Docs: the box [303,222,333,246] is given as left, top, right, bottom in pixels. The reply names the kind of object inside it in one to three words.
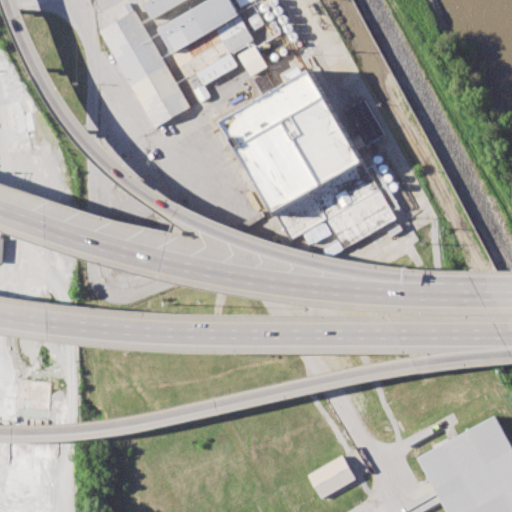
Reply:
shed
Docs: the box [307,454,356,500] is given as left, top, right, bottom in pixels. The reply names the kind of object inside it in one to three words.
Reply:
shed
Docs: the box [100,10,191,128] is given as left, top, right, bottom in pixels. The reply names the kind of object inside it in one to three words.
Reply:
building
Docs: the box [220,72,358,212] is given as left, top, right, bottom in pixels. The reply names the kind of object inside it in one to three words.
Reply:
building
